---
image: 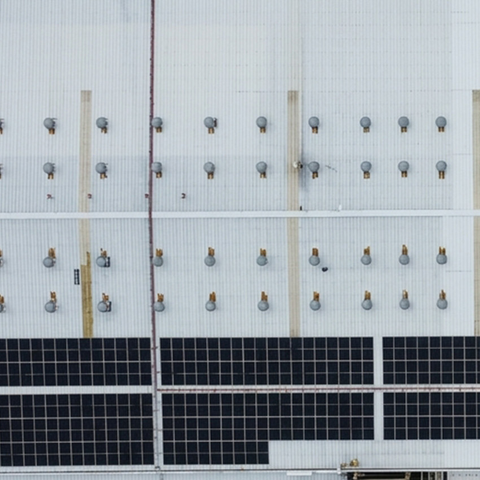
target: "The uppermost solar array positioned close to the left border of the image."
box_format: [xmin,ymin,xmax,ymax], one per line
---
[0,338,153,386]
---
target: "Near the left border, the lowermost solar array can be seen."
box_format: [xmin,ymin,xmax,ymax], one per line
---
[0,393,155,466]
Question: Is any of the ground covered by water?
No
